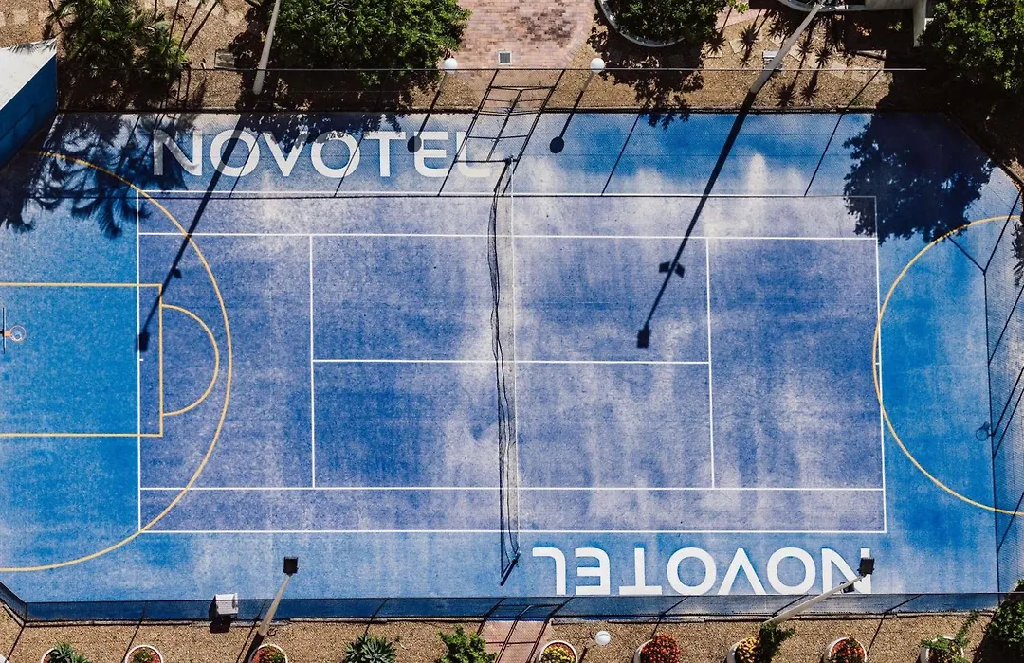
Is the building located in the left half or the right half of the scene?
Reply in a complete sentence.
The building is on the left side of the image.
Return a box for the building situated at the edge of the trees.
[0,36,61,169]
